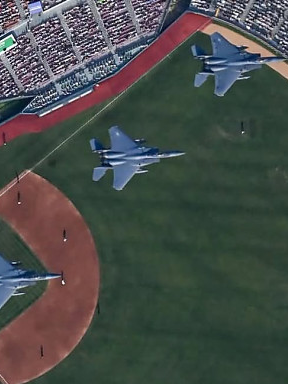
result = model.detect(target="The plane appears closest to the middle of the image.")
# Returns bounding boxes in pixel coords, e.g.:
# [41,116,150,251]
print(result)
[90,125,185,189]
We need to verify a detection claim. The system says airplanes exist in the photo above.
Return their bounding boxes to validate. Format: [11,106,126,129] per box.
[0,255,62,307]
[191,31,286,96]
[90,125,185,189]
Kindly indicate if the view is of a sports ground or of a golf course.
sports ground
